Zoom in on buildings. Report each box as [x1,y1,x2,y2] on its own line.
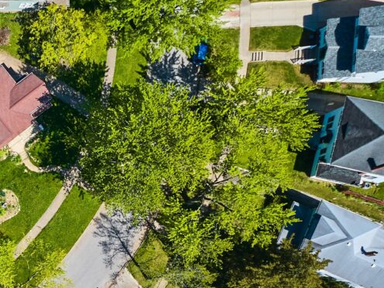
[288,5,384,86]
[275,201,384,288]
[0,0,71,13]
[304,96,384,189]
[0,65,52,151]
